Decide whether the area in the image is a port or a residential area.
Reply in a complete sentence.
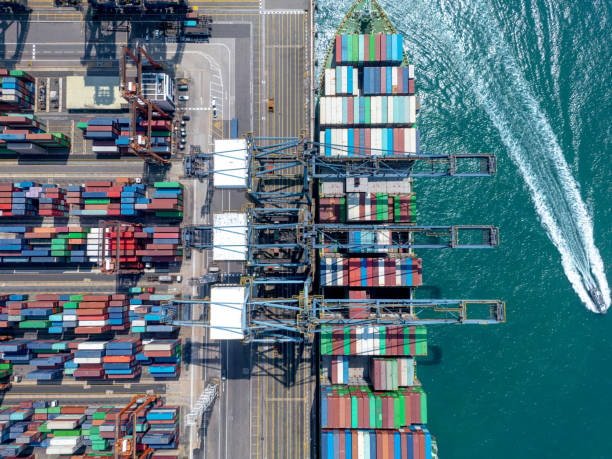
The area seen from above is a port.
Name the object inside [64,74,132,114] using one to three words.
shed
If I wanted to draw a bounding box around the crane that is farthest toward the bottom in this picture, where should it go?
[114,396,159,459]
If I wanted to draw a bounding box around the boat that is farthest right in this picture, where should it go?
[589,286,605,310]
